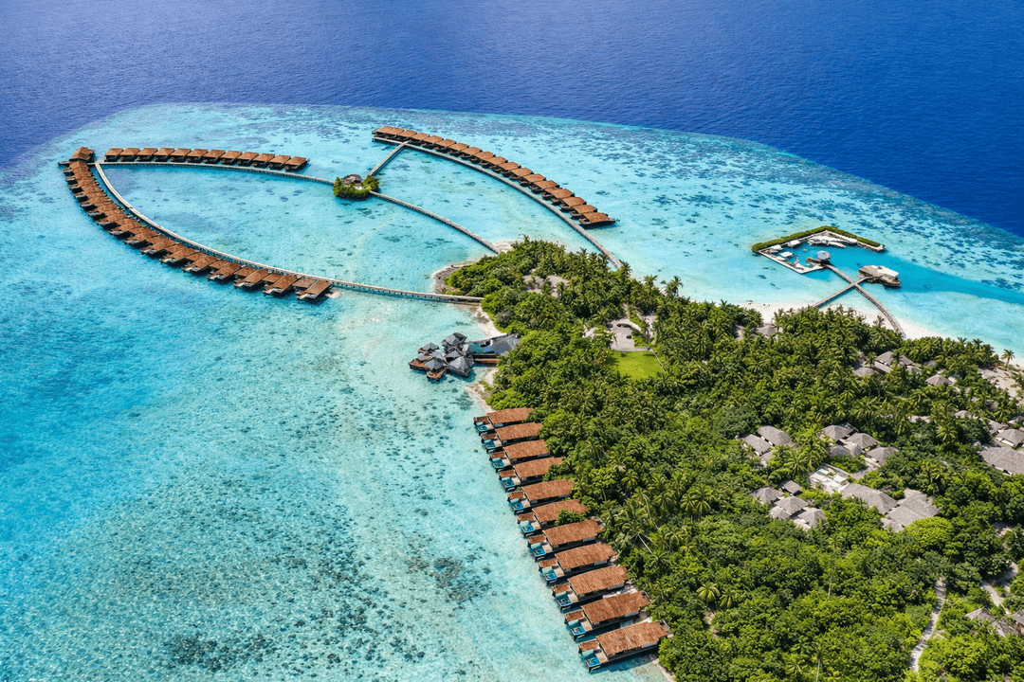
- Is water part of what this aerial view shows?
Yes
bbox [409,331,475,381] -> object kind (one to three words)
building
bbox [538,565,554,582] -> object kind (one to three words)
swimming pool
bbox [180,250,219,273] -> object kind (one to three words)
house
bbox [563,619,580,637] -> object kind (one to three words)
swimming pool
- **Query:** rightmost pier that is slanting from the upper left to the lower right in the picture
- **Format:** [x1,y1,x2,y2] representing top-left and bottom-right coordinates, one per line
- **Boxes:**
[825,264,907,336]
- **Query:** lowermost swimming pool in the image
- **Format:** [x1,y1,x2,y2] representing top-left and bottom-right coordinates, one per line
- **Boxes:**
[577,650,595,670]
